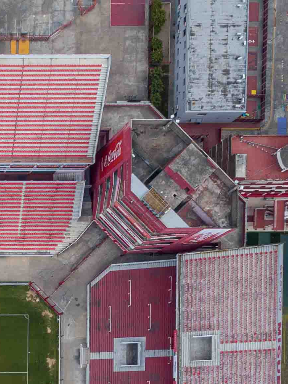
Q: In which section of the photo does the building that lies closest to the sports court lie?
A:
top right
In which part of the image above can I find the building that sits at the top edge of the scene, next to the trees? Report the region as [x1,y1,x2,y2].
[174,0,247,121]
